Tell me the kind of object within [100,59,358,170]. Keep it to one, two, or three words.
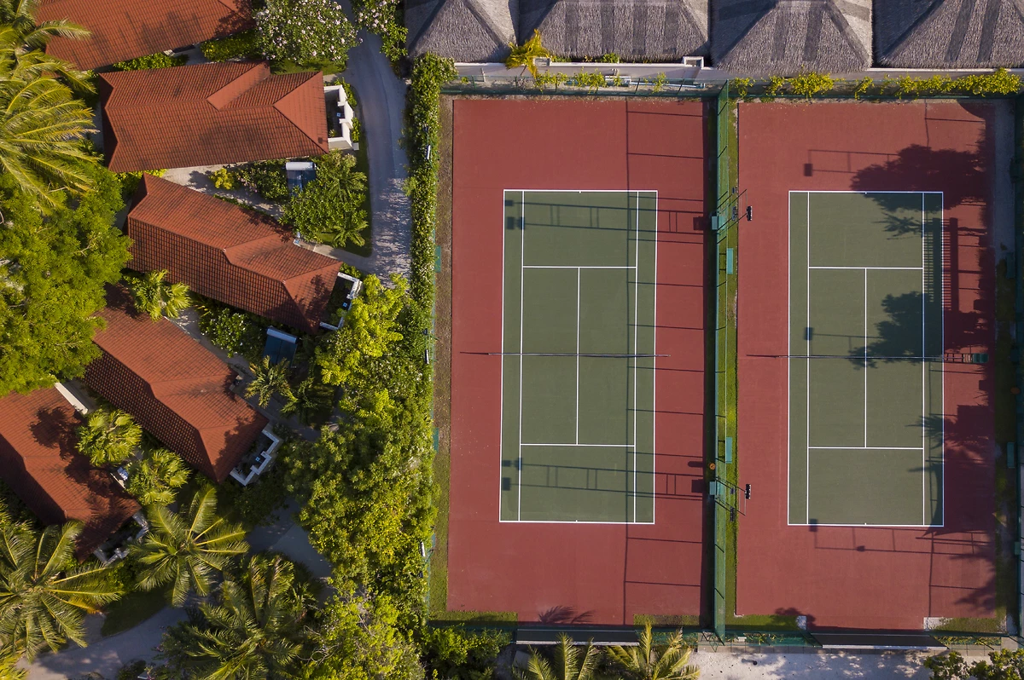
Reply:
house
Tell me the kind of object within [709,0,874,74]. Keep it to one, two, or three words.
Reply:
building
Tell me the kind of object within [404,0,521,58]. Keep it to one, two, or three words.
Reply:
building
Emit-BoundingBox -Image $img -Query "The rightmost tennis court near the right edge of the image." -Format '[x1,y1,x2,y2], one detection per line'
[736,102,996,630]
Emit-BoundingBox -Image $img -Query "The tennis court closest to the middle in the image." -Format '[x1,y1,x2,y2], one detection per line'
[449,99,708,628]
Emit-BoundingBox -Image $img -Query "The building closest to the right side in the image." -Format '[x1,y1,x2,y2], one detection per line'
[872,0,1024,69]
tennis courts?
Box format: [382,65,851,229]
[449,99,708,628]
[736,102,996,630]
